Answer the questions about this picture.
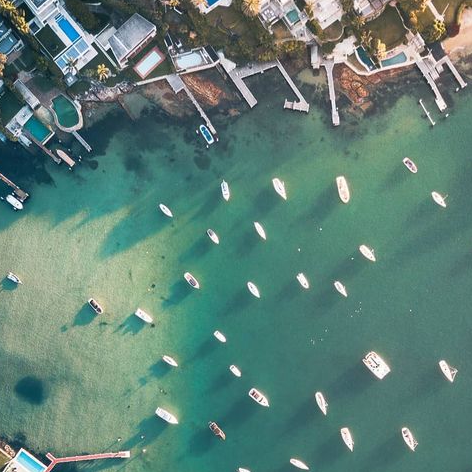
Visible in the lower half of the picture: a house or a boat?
boat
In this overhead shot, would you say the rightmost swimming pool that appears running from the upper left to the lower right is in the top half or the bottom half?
top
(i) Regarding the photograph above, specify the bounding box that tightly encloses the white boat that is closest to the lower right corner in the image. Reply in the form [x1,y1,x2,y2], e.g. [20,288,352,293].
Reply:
[402,427,417,452]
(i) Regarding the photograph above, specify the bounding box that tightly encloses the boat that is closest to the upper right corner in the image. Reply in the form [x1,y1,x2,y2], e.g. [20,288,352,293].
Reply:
[402,156,417,172]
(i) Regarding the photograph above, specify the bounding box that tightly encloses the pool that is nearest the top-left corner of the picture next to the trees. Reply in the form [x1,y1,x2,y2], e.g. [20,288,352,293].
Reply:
[48,4,85,49]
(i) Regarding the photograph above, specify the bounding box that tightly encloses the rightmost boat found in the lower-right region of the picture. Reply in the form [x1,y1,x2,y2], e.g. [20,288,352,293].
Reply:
[439,359,456,382]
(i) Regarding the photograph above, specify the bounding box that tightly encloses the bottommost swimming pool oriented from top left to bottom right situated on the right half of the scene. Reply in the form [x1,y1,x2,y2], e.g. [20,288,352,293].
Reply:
[355,45,378,73]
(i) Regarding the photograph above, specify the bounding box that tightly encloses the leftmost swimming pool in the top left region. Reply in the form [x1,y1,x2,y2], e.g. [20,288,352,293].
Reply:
[24,113,55,145]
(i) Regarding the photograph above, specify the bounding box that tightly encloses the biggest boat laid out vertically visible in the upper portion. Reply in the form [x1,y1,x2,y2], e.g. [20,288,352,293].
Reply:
[336,173,349,202]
